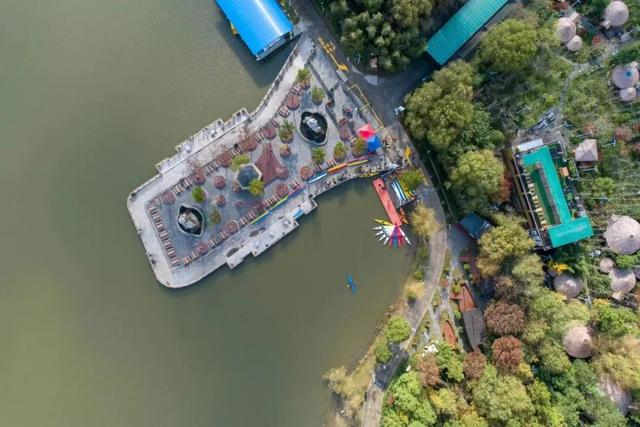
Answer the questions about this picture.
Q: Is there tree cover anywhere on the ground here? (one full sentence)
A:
Yes, the picture does contain tree cover.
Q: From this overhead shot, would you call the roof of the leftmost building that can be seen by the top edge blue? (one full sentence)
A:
Yes, the roof of the leftmost building that can be seen by the top edge is indeed blue.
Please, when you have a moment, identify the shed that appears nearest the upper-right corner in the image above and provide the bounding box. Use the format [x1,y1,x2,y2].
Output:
[592,2,626,34]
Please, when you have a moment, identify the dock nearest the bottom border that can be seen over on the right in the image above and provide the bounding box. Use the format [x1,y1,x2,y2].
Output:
[371,177,402,226]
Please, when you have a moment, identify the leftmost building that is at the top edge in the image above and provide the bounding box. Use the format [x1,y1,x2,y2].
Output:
[216,0,299,69]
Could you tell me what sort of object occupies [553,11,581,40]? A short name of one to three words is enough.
shed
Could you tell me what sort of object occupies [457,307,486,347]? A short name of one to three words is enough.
house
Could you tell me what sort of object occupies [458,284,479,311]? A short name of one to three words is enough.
house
